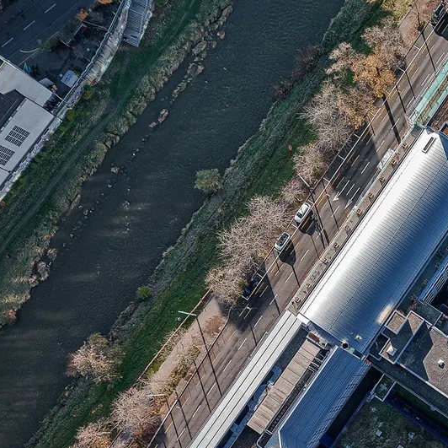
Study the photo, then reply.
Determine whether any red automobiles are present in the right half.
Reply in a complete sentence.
No, I see no red automobile in the right half.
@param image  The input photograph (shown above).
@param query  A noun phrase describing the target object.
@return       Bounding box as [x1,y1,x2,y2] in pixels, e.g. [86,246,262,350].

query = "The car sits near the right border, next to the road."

[429,5,446,25]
